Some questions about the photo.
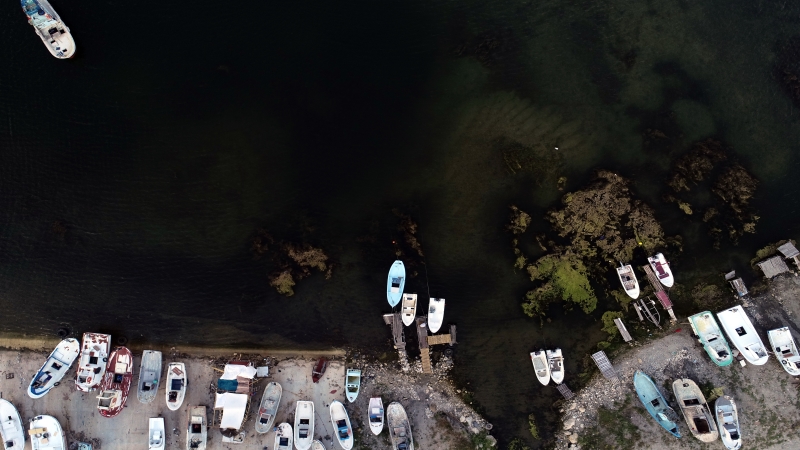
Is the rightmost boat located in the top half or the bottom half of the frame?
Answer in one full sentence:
The rightmost boat is in the bottom half of the image.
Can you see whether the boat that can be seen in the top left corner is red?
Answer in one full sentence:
No, from above the boat that can be seen in the top left corner looks white.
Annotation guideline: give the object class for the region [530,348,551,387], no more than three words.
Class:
boat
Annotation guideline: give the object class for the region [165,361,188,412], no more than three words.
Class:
boat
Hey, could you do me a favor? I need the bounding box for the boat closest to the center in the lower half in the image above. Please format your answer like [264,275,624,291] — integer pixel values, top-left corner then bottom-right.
[387,261,405,308]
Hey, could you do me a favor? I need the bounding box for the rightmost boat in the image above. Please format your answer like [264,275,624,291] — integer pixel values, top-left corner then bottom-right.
[767,324,800,377]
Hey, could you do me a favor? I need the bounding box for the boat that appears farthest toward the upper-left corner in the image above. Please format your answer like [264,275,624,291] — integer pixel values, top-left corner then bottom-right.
[18,0,74,59]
